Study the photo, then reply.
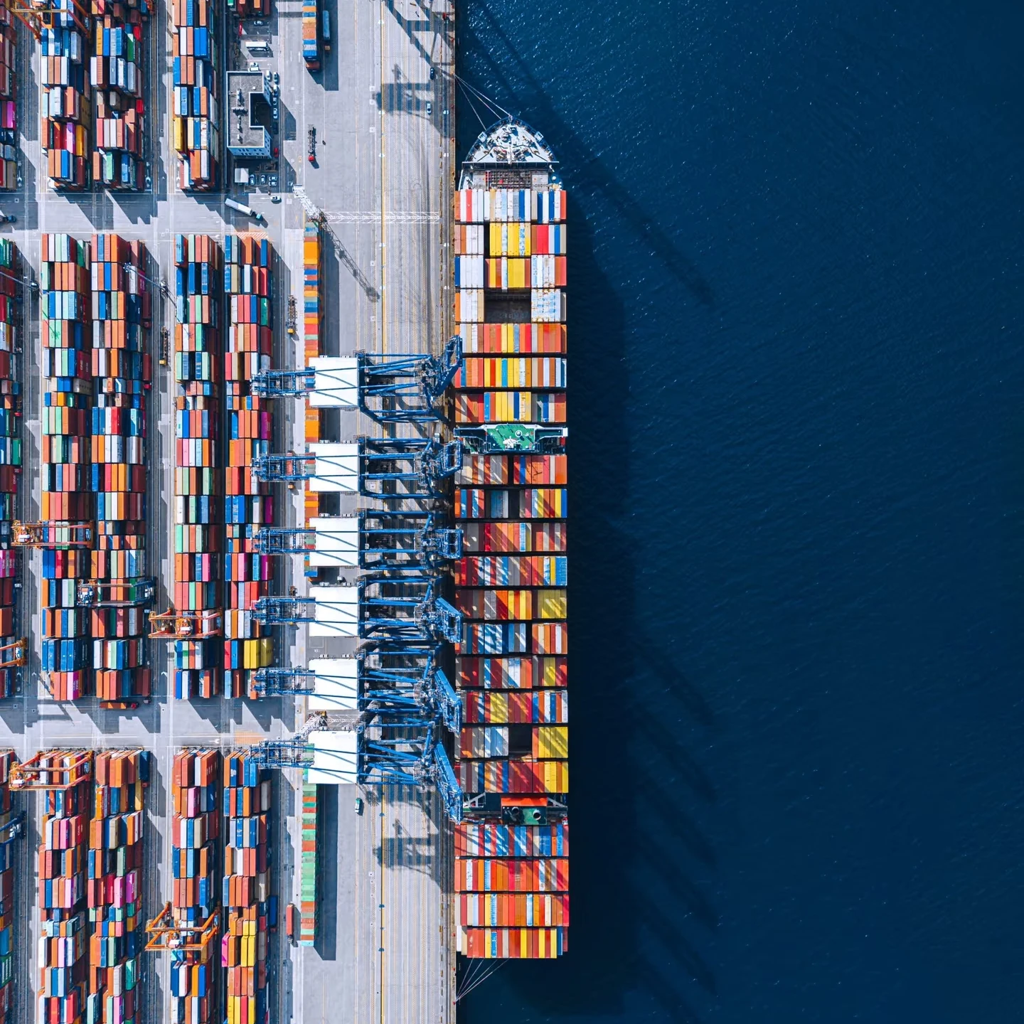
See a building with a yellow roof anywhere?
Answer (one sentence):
No, no building with a yellow roof is visible in the view.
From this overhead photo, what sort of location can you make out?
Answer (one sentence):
The picture captures a port.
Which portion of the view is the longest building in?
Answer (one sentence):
The longest building sits in the top left section of the image.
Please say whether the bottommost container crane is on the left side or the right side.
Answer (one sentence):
It is on the left.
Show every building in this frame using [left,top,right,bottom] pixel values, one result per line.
[226,71,271,157]
[232,167,248,183]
